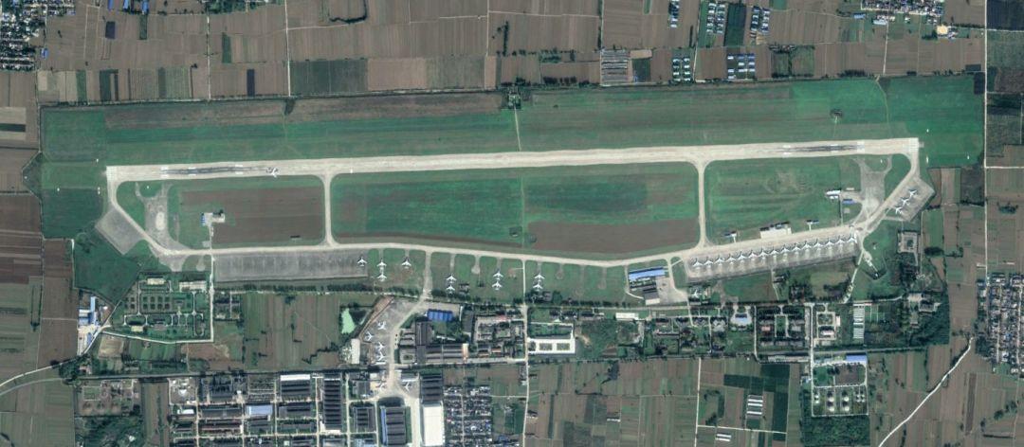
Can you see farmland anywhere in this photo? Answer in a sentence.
Yes, there's farmland in this view.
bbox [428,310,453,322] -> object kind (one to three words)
hangar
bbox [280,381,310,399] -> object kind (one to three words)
building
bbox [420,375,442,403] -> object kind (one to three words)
hangar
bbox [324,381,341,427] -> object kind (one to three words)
building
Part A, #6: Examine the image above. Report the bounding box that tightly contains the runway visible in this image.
[106,138,919,182]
